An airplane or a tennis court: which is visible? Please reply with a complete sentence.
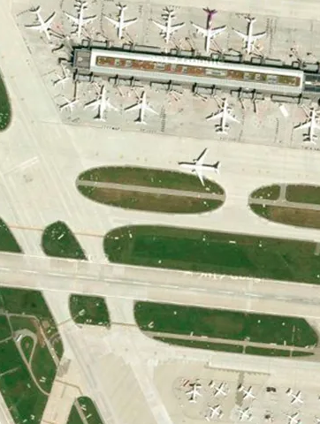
Looking from above, you can make out an airplane.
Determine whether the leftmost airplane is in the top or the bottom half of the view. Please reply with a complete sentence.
The top half of the photo is where the leftmost airplane is.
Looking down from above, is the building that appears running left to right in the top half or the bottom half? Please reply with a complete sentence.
The building that appears running left to right sits in the top half of the picture.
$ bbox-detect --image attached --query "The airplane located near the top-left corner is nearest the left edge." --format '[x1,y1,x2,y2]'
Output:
[24,6,57,40]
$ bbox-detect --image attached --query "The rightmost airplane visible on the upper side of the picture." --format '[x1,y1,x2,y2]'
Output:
[295,108,320,144]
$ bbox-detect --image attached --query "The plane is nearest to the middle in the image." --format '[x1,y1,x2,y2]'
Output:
[180,149,221,189]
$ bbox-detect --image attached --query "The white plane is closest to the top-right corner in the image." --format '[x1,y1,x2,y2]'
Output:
[233,18,269,53]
